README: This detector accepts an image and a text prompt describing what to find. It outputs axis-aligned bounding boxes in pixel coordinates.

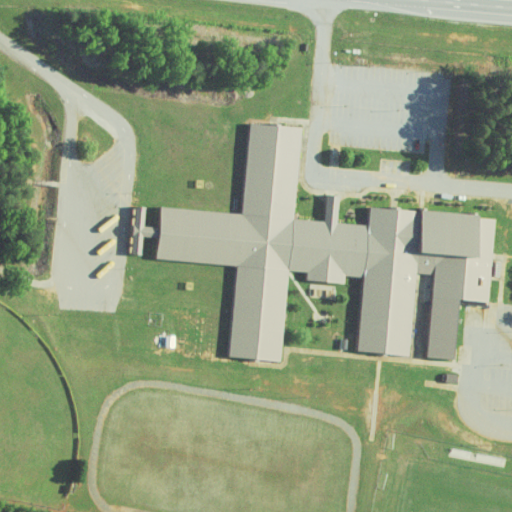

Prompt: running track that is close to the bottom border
[87,380,362,512]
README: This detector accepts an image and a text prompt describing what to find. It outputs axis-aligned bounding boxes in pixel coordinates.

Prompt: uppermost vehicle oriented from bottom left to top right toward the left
[99,215,120,233]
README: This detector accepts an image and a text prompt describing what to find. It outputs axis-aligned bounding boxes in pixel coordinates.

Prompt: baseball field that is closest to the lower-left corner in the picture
[0,302,78,507]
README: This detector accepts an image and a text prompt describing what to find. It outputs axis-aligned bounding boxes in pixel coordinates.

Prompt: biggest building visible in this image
[156,124,498,363]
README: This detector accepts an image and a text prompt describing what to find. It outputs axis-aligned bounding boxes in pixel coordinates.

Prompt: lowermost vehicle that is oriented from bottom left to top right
[96,260,115,278]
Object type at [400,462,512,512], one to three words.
sports field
